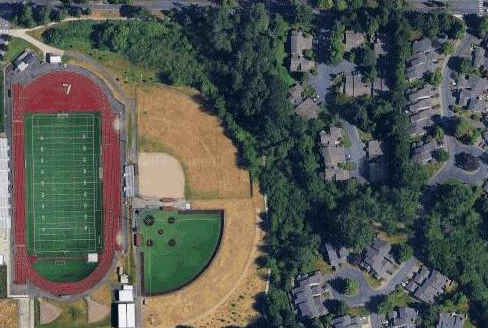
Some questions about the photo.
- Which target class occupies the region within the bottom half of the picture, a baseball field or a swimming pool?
baseball field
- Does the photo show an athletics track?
Yes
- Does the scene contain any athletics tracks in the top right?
No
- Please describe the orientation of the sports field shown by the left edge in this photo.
from top to bottom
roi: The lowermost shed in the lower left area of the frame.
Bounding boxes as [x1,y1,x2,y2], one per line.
[118,304,135,328]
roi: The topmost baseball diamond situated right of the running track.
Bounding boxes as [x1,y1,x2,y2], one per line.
[139,151,184,198]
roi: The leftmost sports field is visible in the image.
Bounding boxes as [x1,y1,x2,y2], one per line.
[24,112,102,283]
